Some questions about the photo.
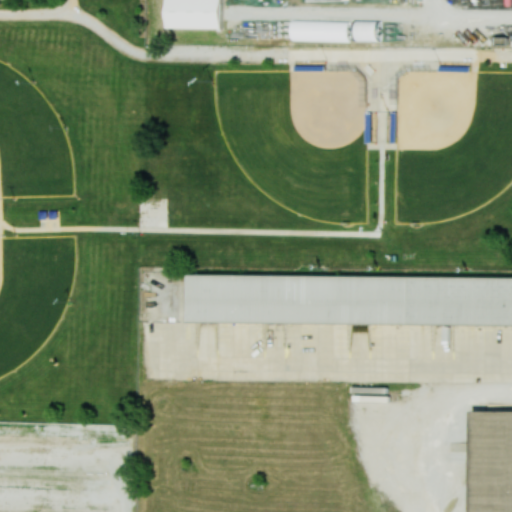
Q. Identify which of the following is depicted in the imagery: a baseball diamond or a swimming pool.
baseball diamond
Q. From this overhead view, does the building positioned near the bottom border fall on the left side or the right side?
right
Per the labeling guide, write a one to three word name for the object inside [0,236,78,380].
baseball field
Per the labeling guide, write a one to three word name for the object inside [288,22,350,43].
greenhouse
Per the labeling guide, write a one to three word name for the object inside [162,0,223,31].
building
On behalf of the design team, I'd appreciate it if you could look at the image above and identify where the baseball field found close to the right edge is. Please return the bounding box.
[396,71,512,225]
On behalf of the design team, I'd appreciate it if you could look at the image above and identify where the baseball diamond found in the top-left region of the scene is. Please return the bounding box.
[0,60,76,198]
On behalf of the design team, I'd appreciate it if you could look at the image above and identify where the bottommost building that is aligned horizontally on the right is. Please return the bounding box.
[184,272,512,322]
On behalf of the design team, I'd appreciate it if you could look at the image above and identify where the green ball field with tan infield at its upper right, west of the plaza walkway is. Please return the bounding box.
[214,70,368,226]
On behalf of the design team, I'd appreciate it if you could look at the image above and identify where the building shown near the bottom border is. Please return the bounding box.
[462,411,512,512]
